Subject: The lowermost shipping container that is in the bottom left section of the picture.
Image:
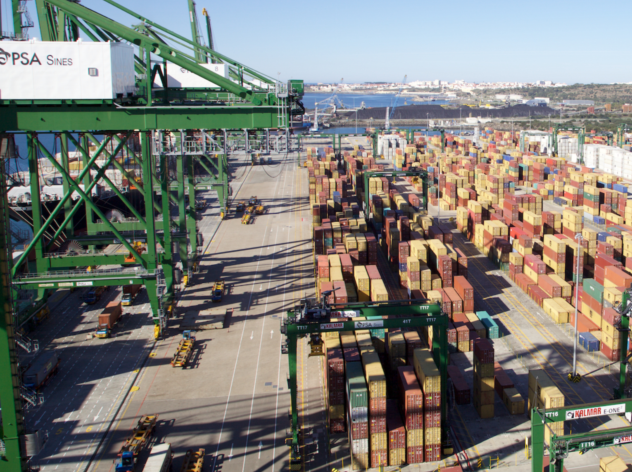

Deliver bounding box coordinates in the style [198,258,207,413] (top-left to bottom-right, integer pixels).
[137,433,169,472]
